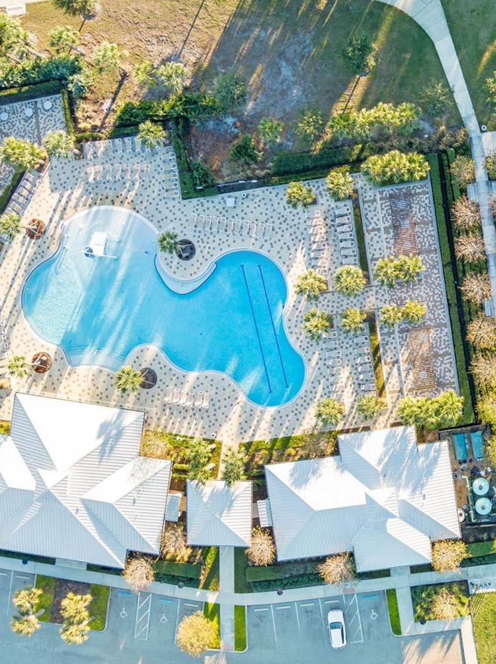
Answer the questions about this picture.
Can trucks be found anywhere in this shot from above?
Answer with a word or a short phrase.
No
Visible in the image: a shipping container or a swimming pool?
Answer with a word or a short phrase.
swimming pool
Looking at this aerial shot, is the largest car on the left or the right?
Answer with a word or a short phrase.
right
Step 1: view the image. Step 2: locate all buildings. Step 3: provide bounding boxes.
[186,477,258,548]
[0,392,175,569]
[264,425,461,573]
